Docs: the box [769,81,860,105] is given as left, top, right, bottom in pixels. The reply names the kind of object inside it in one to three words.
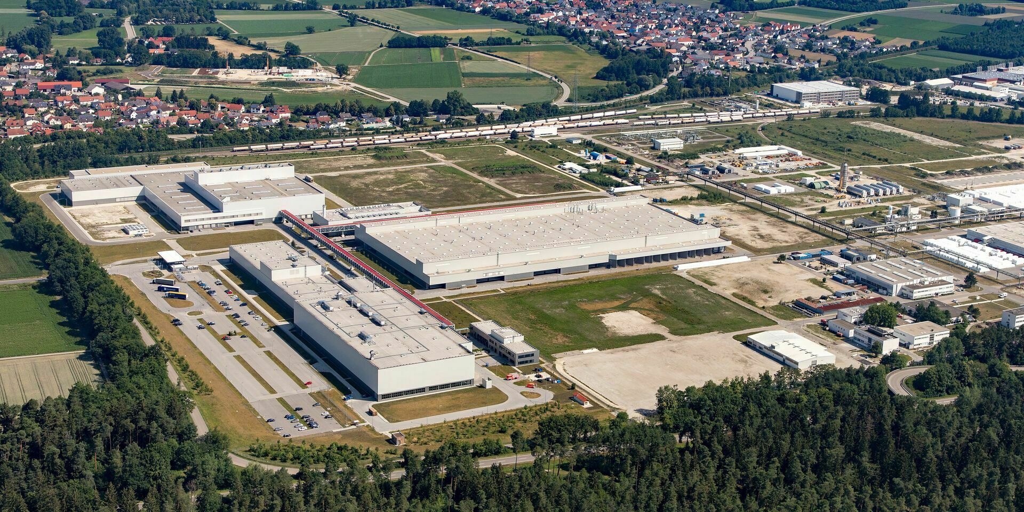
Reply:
building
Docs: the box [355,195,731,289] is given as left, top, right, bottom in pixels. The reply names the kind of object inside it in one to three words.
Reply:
building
